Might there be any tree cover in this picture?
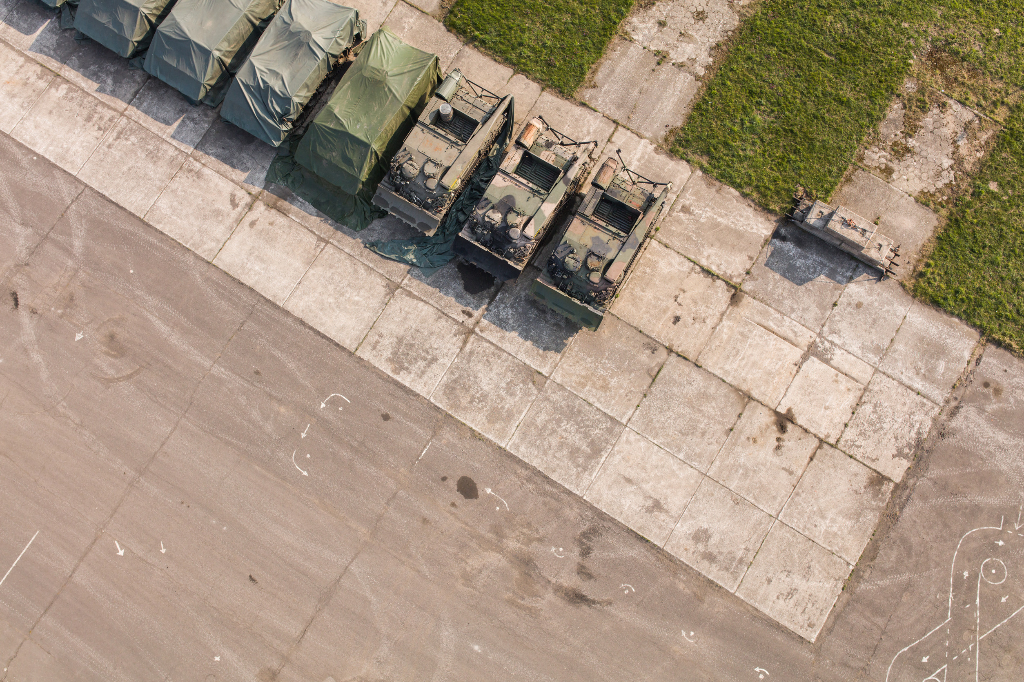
No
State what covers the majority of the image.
paved ground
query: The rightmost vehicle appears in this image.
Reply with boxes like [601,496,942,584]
[530,148,672,333]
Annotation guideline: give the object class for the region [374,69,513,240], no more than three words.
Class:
vehicle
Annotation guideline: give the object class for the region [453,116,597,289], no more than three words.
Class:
vehicle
